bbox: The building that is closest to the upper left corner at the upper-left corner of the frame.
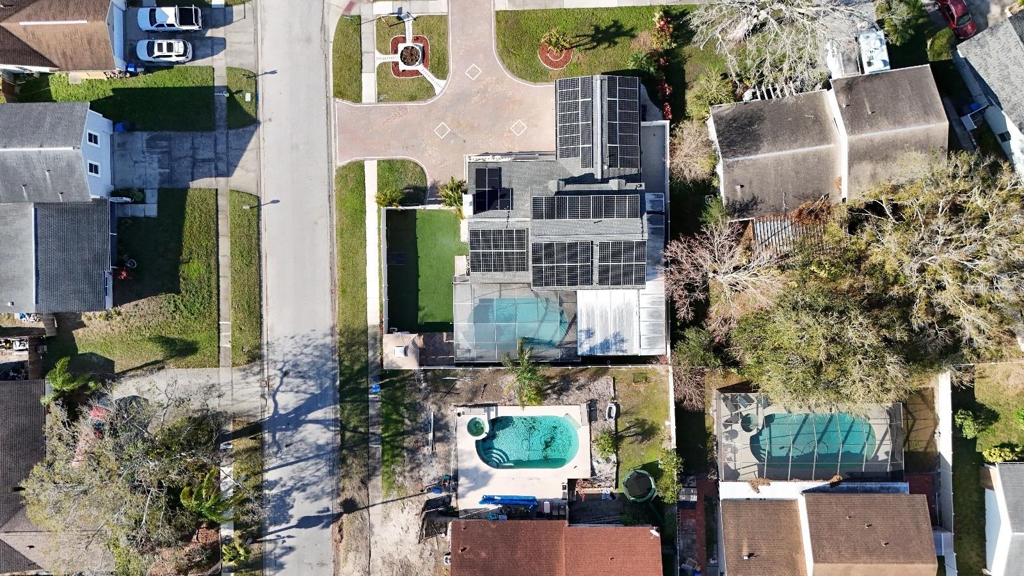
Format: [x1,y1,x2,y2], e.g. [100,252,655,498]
[0,0,126,81]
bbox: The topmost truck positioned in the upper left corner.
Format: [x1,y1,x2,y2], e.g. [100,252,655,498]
[138,4,206,33]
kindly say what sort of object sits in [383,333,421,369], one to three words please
gazebo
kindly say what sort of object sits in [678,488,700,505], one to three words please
shed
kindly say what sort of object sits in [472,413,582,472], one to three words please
swimming pool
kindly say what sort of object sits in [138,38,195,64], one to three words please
car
